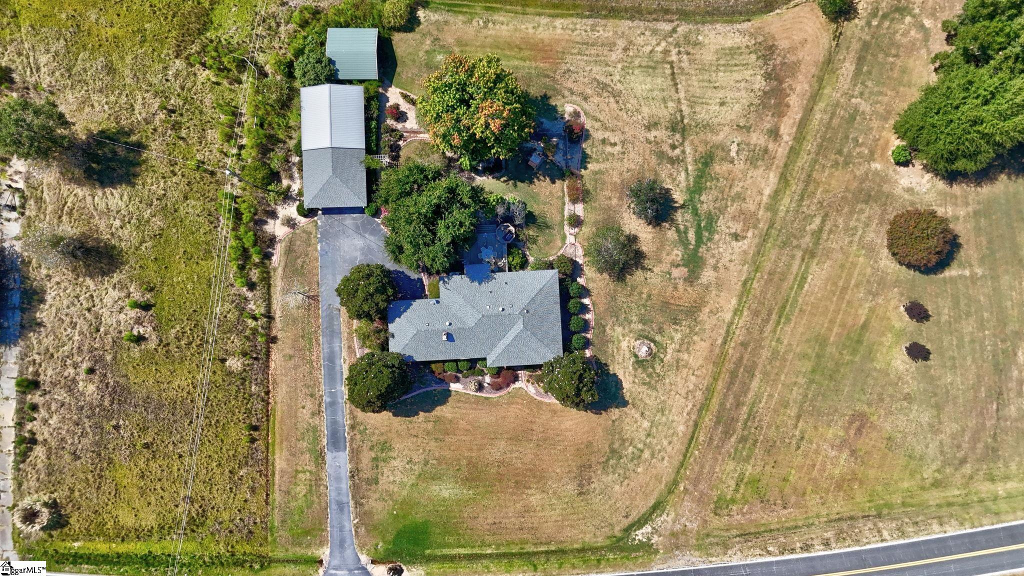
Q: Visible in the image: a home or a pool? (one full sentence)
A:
The one in the frame is a home.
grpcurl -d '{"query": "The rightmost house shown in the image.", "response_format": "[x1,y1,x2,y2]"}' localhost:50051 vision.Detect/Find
[387,263,563,368]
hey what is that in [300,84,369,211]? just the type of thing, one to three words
building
